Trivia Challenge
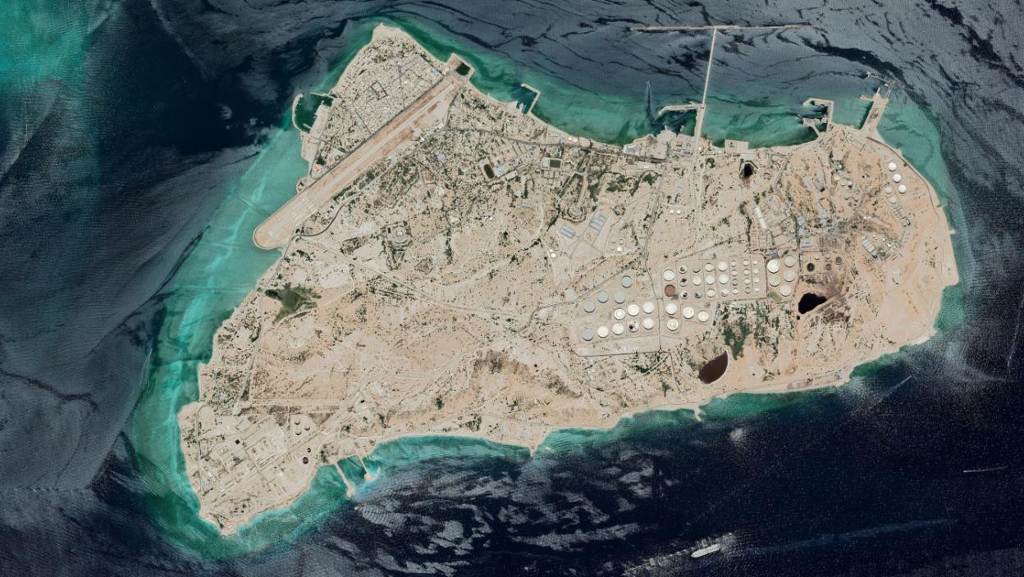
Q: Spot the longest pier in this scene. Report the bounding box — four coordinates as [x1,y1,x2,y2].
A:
[629,25,812,109]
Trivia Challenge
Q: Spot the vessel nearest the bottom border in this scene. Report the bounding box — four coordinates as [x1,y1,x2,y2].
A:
[692,545,720,557]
